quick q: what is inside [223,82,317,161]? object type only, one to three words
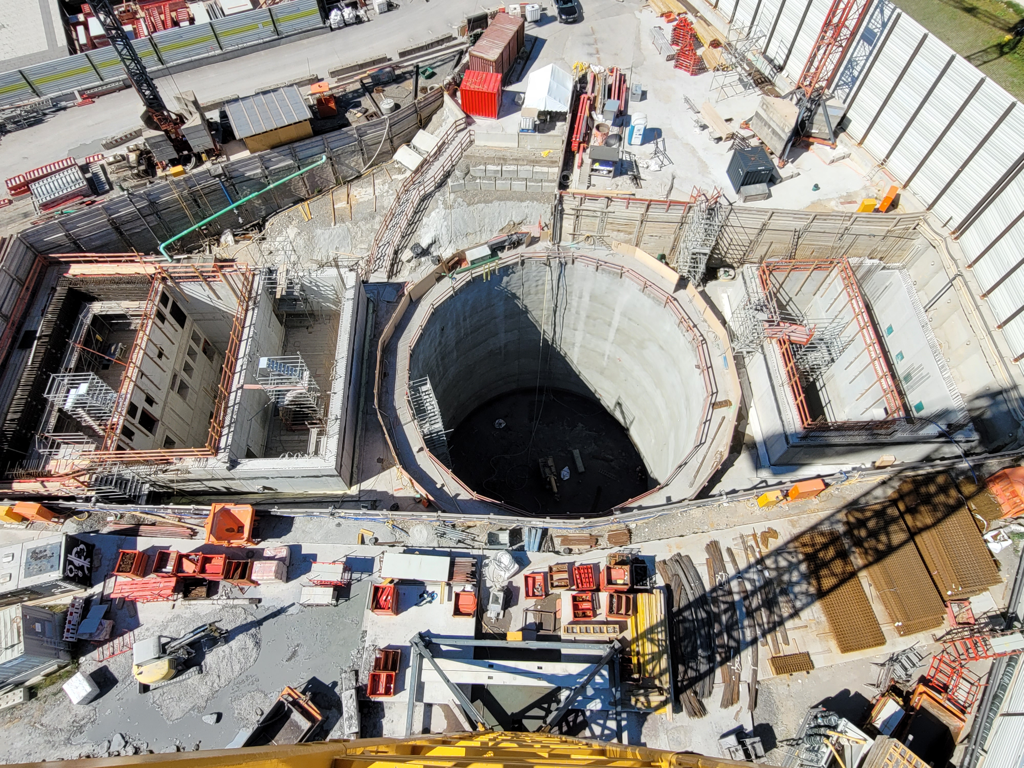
shed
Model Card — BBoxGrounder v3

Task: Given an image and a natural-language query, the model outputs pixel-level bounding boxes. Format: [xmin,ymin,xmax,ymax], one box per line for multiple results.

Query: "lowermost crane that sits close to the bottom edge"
[0,609,827,768]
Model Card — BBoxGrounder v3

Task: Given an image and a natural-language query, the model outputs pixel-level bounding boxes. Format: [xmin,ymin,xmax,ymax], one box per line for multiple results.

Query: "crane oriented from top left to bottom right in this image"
[78,0,215,166]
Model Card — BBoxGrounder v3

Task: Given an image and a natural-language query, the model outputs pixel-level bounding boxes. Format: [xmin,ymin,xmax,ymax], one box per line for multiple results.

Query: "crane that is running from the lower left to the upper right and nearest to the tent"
[738,0,875,169]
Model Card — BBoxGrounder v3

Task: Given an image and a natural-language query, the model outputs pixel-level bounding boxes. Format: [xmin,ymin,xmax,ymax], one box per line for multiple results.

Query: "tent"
[522,64,573,130]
